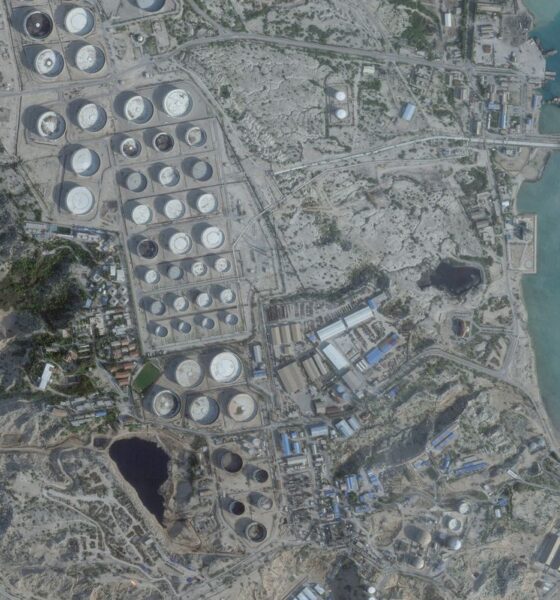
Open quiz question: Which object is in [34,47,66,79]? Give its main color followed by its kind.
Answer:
white storage tank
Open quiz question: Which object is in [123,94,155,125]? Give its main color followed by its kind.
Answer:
white storage tank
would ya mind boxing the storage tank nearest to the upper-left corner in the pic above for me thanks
[23,9,55,40]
